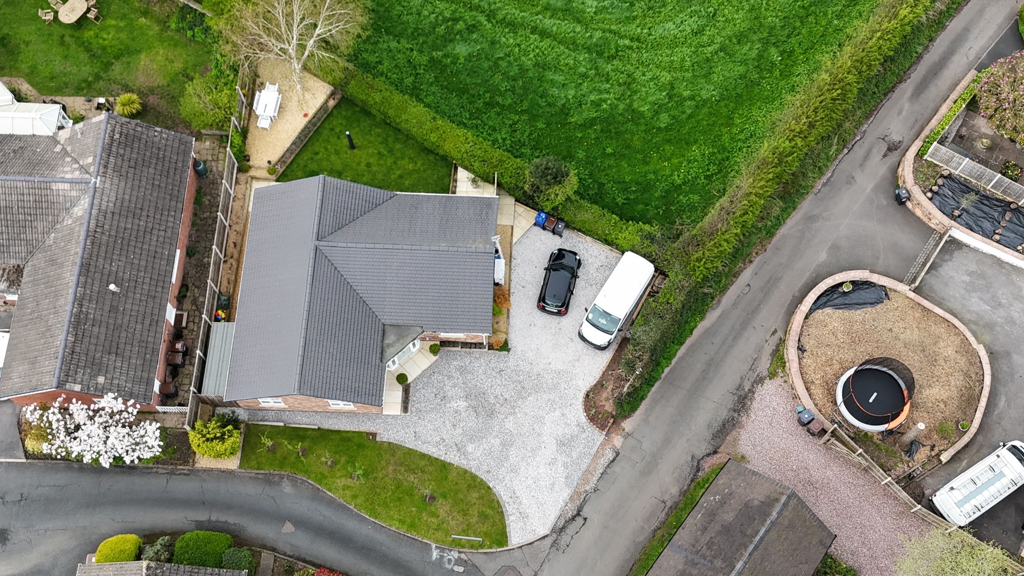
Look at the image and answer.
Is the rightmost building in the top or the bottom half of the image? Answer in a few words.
bottom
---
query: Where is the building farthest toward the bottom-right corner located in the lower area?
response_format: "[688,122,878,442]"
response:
[645,457,840,576]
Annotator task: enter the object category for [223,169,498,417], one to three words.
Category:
house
